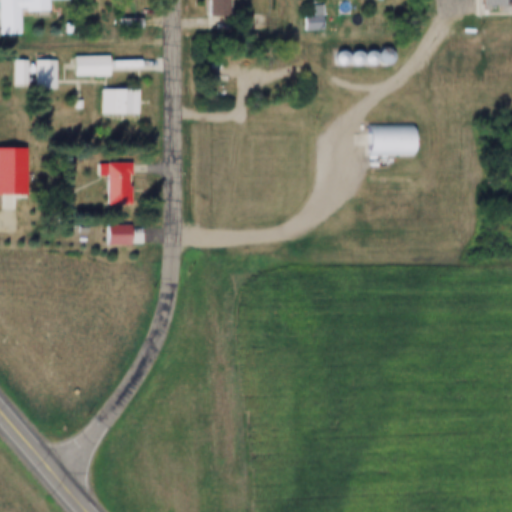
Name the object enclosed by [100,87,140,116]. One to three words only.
house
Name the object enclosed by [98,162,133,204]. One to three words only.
house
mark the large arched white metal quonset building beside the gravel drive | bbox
[369,124,420,157]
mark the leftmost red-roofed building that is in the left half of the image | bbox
[0,147,28,194]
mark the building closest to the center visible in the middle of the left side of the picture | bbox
[108,226,144,246]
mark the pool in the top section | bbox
[338,0,352,16]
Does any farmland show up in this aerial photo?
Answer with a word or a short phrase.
Yes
